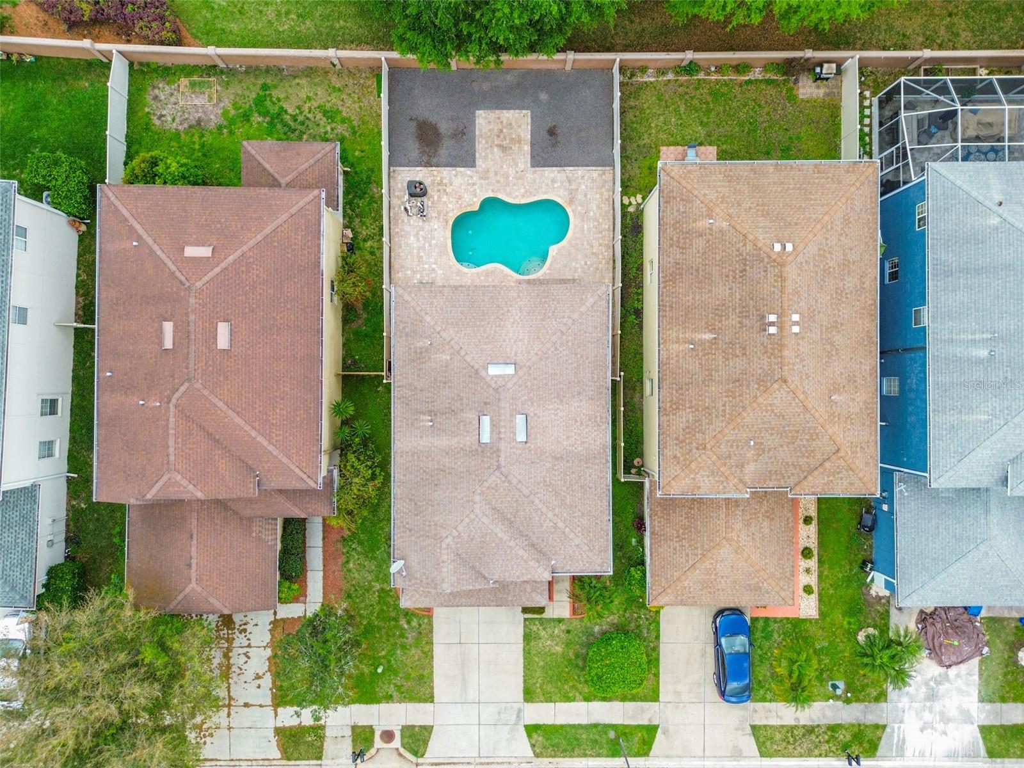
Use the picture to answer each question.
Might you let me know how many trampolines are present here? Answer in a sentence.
The picture shows no trampolines.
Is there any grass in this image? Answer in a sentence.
Yes, some grass is visible.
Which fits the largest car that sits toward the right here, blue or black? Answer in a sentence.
The color of the largest car that sits toward the right is blue.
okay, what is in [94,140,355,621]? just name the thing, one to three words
house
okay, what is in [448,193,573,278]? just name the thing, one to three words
swimming pool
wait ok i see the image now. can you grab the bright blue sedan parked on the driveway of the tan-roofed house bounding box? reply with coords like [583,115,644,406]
[711,607,756,702]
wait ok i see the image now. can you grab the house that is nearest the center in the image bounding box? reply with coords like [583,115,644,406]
[391,283,612,608]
